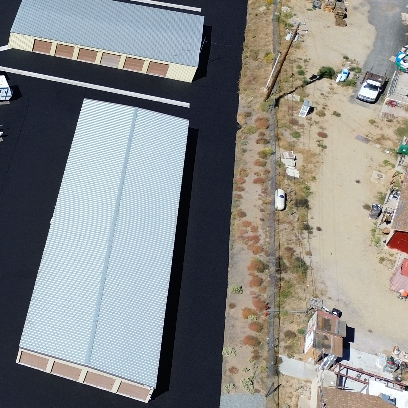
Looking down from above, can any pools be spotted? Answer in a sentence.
No, there isn't any pool down there.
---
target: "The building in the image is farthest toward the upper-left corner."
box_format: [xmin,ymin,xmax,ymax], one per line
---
[8,0,203,81]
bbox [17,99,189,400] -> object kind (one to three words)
building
